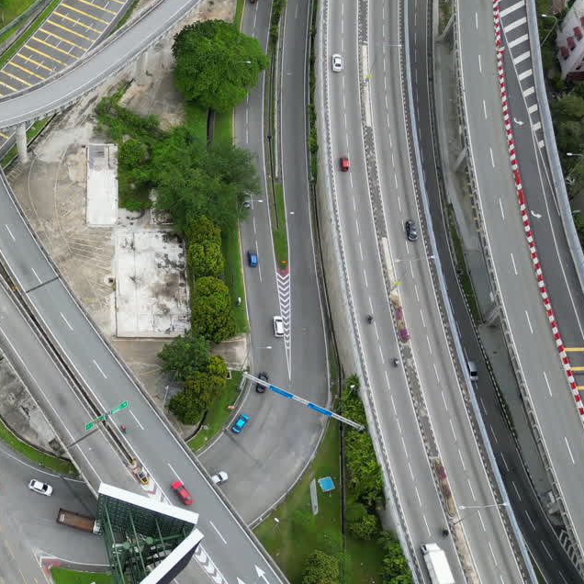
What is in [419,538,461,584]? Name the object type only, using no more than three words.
truck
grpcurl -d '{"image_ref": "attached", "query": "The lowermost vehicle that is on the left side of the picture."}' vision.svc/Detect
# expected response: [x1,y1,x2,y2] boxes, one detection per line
[55,506,94,531]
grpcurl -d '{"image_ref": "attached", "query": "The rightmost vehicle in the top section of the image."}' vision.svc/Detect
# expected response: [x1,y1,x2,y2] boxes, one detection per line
[403,219,418,241]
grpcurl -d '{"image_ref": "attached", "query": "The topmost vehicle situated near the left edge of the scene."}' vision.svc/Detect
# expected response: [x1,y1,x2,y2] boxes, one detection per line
[28,477,55,496]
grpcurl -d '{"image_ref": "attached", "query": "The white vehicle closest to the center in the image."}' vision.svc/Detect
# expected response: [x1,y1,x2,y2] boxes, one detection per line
[272,316,285,338]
